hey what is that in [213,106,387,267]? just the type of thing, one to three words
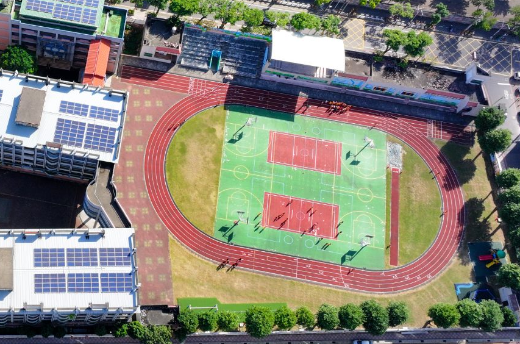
sports court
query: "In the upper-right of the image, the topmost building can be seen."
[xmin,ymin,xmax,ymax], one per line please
[459,64,490,89]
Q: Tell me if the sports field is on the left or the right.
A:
right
